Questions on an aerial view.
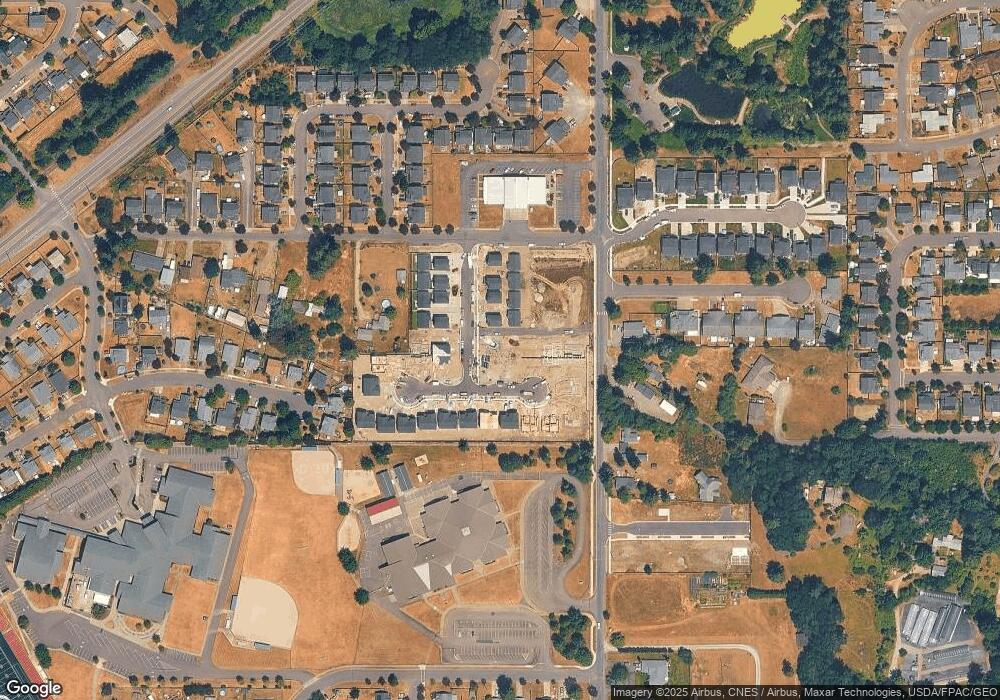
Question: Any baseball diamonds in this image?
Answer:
Yes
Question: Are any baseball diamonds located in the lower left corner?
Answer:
Yes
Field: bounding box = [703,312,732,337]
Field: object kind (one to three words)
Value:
house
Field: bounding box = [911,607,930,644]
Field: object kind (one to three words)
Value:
shed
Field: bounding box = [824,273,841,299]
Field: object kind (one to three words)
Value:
house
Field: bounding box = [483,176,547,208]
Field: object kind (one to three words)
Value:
building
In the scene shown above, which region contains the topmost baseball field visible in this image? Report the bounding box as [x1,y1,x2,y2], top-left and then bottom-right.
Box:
[292,445,343,496]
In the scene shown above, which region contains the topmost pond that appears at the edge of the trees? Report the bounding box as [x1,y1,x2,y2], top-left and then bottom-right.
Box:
[728,0,801,48]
